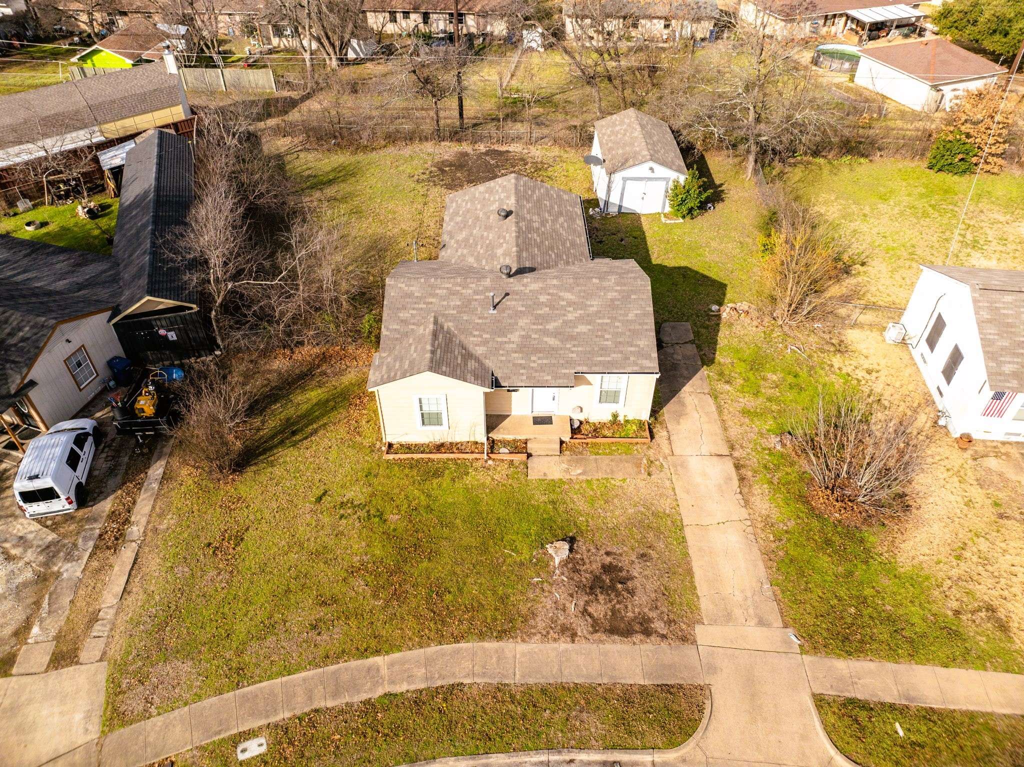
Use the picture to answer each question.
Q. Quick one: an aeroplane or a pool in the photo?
pool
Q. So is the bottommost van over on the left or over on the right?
left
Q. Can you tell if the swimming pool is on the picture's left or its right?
right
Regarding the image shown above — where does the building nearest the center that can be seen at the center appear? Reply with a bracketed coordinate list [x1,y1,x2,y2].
[367,173,660,462]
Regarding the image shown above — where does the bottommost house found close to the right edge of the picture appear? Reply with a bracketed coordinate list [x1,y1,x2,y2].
[895,262,1024,444]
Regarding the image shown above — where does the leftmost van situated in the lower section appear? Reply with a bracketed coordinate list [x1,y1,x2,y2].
[13,418,105,519]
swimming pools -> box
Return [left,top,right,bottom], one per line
[806,42,869,82]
